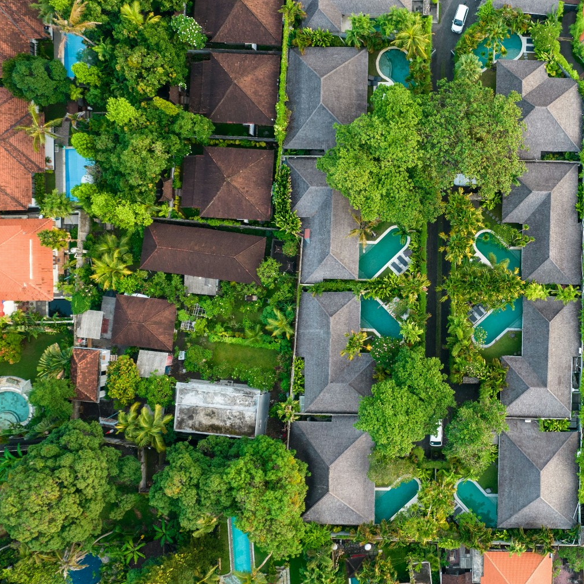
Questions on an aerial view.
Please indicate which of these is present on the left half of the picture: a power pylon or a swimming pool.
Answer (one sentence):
Looking on the left half of the picture, you will find a swimming pool.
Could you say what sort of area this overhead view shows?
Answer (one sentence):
It's a residential area.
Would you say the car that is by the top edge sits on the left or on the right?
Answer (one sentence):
It is on the right.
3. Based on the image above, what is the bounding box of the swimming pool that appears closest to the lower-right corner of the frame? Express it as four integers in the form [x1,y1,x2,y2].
[456,479,498,529]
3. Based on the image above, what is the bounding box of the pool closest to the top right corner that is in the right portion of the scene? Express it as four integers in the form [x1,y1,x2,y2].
[472,30,525,71]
